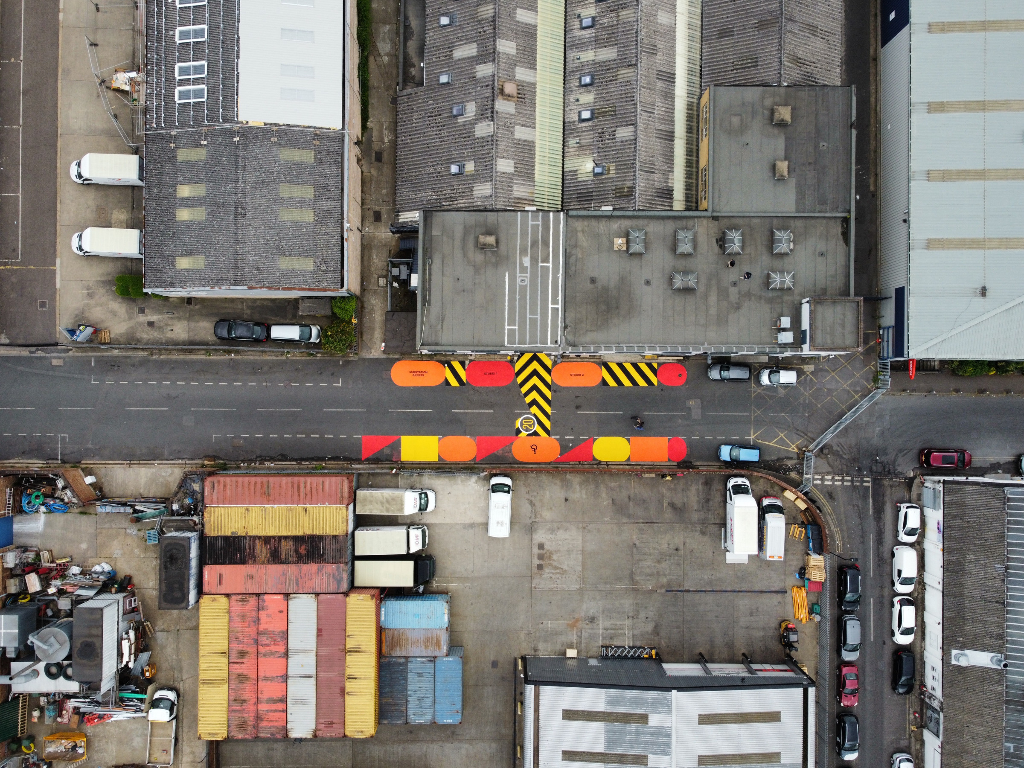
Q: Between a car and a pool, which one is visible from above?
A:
car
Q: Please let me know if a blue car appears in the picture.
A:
Yes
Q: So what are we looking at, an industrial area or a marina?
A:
industrial area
